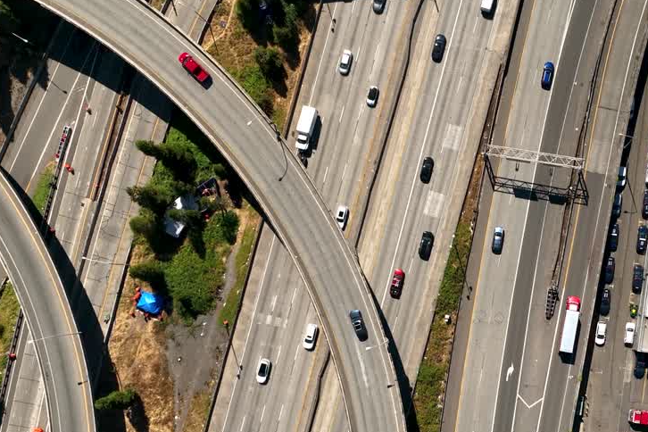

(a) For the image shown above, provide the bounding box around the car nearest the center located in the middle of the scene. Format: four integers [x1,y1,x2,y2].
[337,204,349,230]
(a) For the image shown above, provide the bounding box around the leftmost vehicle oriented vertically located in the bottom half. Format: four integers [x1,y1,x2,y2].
[257,358,271,384]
